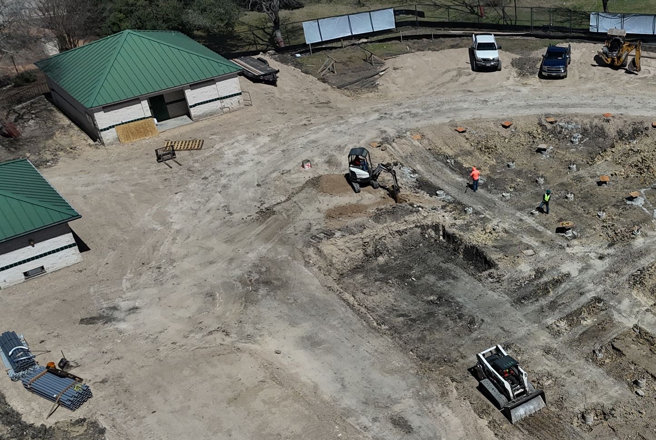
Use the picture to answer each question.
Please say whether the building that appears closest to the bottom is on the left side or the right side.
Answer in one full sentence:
The building that appears closest to the bottom is on the left side of the image.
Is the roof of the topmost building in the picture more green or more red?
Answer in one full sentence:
The roof of the topmost building is green.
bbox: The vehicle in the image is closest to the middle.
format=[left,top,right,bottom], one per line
[342,148,395,197]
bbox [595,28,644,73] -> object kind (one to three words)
work vehicle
